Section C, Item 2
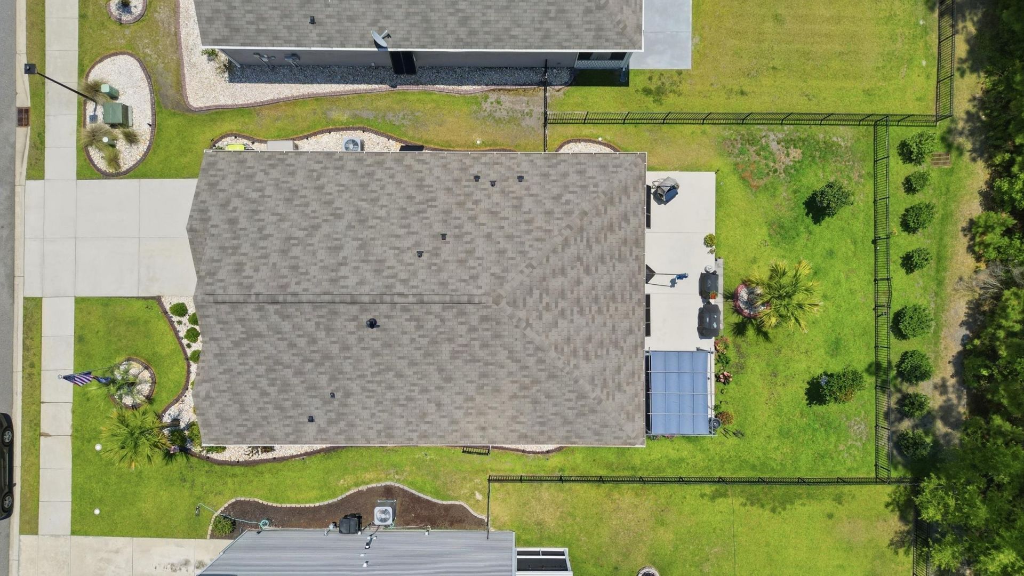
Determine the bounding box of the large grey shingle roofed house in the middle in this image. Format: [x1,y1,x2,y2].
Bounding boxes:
[187,143,656,448]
